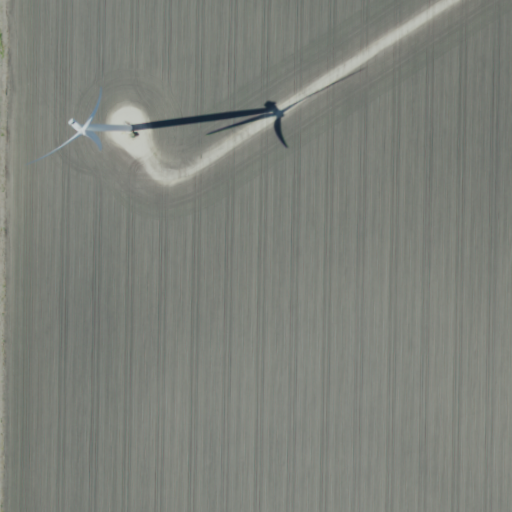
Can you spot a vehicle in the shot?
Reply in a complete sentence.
No, this view has no vehicle in it.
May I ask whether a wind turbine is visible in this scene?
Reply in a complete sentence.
Yes, a wind turbine is visible in the scene.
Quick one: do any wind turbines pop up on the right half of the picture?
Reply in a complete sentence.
No, on the right half of the picture there is no wind turbine.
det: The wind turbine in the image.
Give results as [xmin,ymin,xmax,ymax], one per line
[28,88,136,164]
